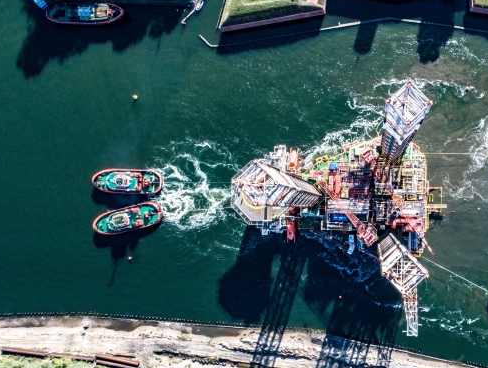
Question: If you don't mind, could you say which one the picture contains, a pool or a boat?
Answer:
boat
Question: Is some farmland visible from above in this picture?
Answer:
No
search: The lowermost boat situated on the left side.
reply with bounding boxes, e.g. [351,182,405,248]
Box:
[90,200,166,235]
